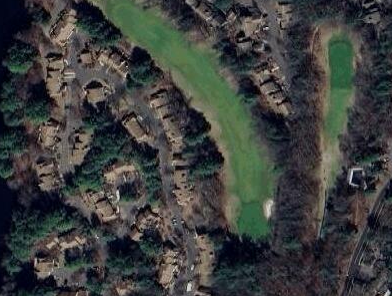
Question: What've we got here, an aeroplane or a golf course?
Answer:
golf course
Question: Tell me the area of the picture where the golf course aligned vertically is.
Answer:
right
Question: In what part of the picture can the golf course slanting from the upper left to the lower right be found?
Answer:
center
